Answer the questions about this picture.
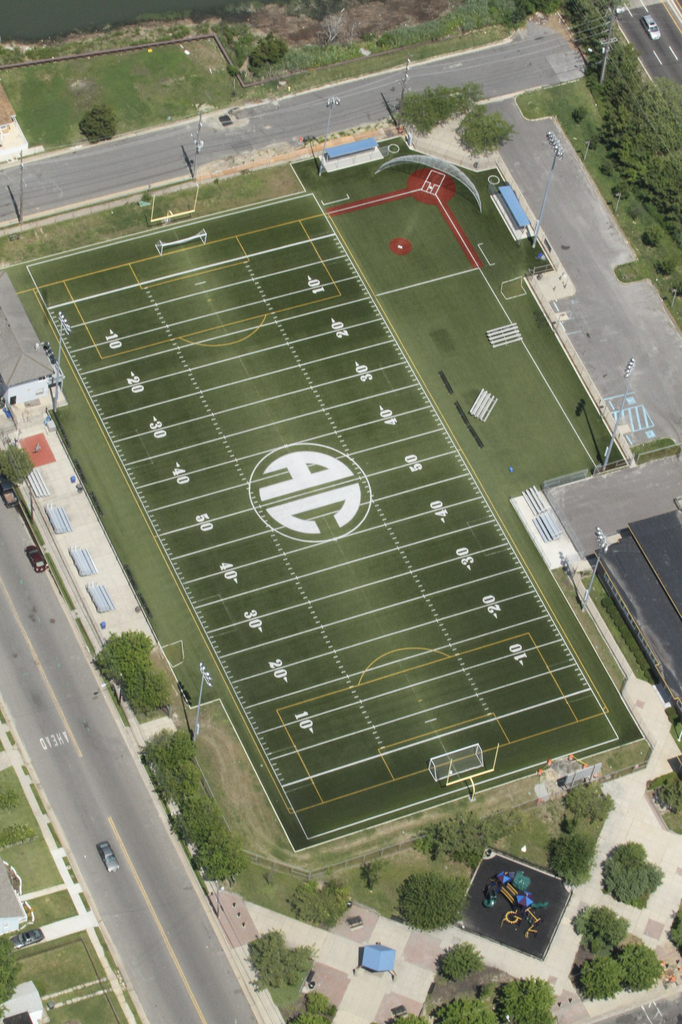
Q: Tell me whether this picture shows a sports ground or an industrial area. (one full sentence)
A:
This looks like a sports ground.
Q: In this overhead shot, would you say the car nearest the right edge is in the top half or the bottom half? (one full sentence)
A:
You can find the car nearest the right edge in the top half.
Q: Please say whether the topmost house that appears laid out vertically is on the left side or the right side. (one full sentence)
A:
The topmost house that appears laid out vertically is on the left side of the image.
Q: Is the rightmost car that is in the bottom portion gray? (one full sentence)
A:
Yes, the rightmost car that is in the bottom portion is indeed gray.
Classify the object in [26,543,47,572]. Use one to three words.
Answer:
car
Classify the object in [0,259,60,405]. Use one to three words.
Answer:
building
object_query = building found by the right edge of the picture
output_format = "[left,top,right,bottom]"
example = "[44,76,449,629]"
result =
[593,509,682,720]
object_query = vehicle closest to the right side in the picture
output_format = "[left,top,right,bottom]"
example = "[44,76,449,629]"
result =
[641,12,662,38]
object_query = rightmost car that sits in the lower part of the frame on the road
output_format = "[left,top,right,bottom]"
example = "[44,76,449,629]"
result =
[96,838,120,872]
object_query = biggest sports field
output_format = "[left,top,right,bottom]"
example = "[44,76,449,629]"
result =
[5,163,639,852]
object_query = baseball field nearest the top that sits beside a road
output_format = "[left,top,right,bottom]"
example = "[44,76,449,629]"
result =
[290,133,629,496]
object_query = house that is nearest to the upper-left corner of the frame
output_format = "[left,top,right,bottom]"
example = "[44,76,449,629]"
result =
[0,84,29,154]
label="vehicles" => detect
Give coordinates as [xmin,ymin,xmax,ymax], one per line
[96,838,120,872]
[641,12,662,38]
[0,474,20,505]
[26,543,47,572]
[613,0,627,13]
[8,925,46,949]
